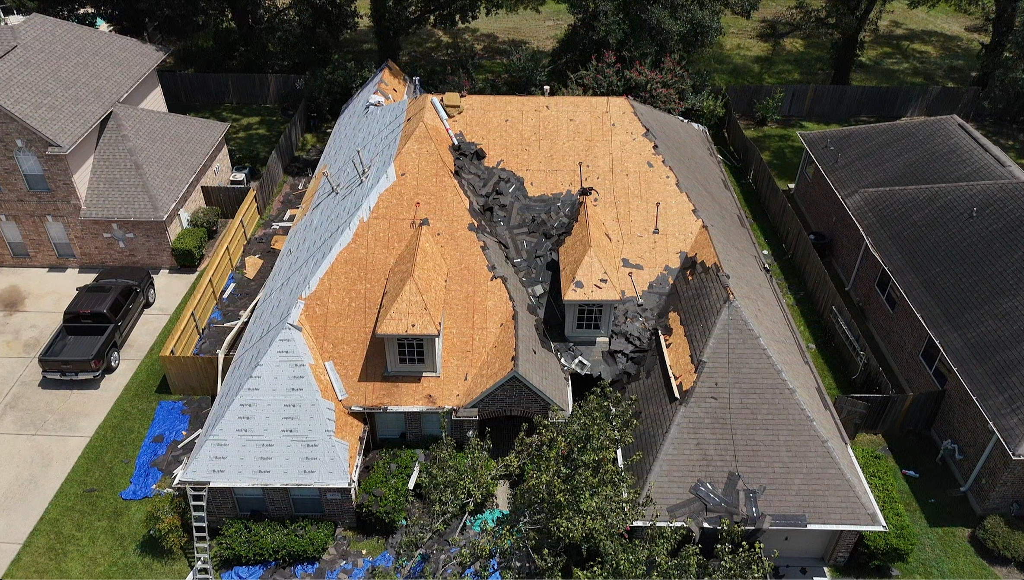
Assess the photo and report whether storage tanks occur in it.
No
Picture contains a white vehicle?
No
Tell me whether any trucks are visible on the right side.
No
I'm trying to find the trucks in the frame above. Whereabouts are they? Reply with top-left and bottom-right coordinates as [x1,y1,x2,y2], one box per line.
[36,268,164,384]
